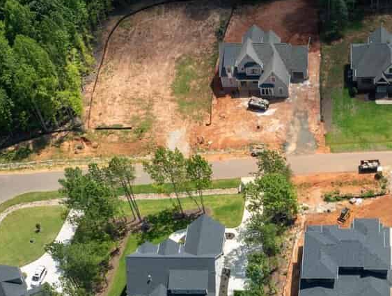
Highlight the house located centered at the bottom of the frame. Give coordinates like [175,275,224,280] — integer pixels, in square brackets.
[123,215,228,296]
